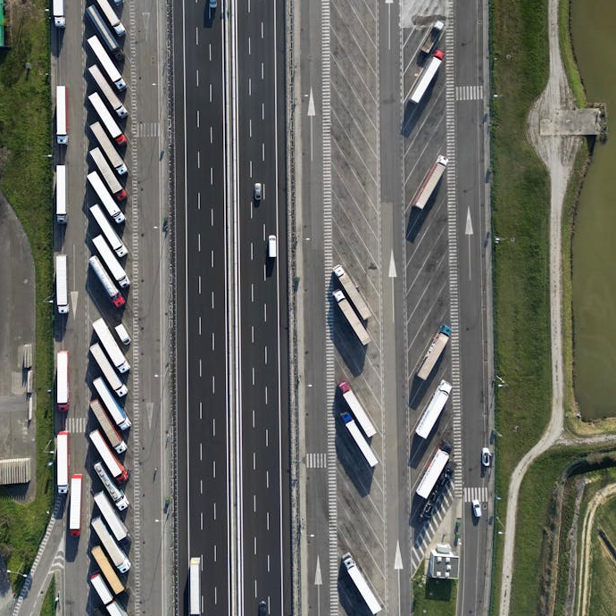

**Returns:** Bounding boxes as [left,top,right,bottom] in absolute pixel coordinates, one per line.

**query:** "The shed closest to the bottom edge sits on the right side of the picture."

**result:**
[431,546,459,579]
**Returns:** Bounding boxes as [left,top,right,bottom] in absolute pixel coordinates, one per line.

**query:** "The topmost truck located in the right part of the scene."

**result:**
[420,22,446,58]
